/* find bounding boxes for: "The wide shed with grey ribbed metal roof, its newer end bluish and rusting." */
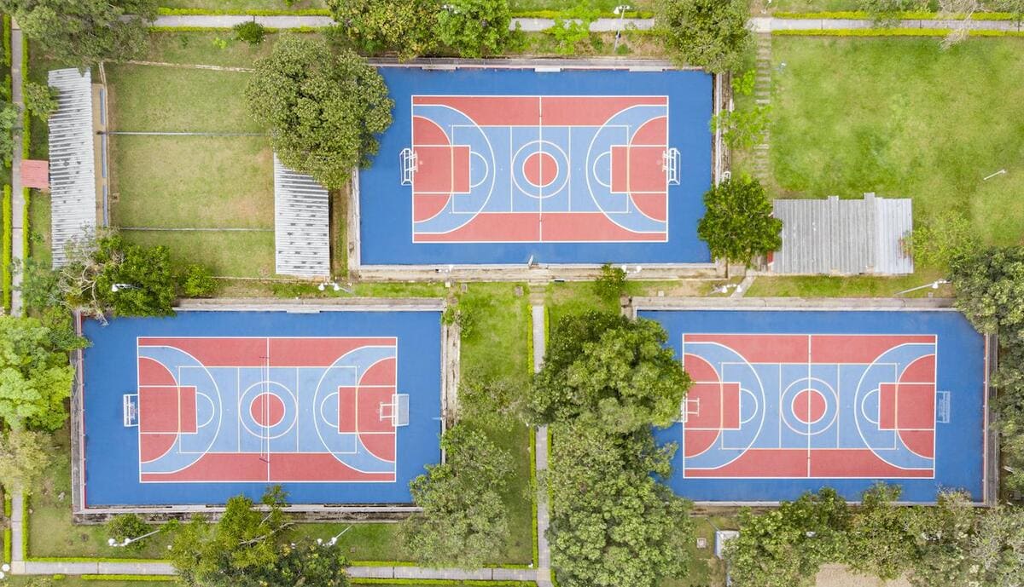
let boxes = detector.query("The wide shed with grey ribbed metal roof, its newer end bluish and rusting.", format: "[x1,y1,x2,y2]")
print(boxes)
[762,192,912,277]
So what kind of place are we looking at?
sports ground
